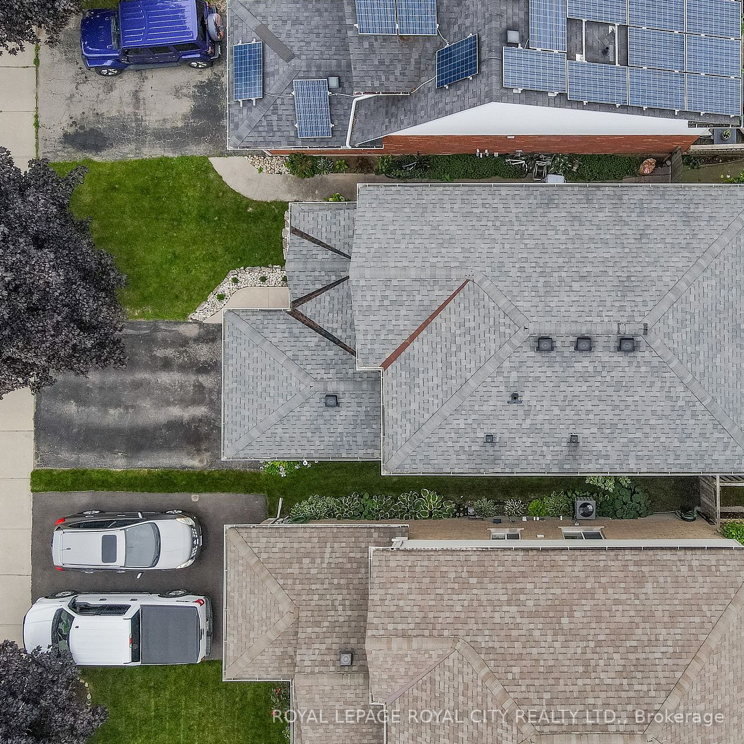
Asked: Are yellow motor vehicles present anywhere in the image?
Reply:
No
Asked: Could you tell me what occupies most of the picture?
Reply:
buildings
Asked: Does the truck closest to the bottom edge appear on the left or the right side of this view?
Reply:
left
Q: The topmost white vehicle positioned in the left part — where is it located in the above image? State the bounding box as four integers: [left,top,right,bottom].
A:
[47,508,204,581]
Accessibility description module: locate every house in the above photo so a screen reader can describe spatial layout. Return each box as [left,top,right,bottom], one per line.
[223,519,744,744]
[222,184,744,476]
[227,0,743,158]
